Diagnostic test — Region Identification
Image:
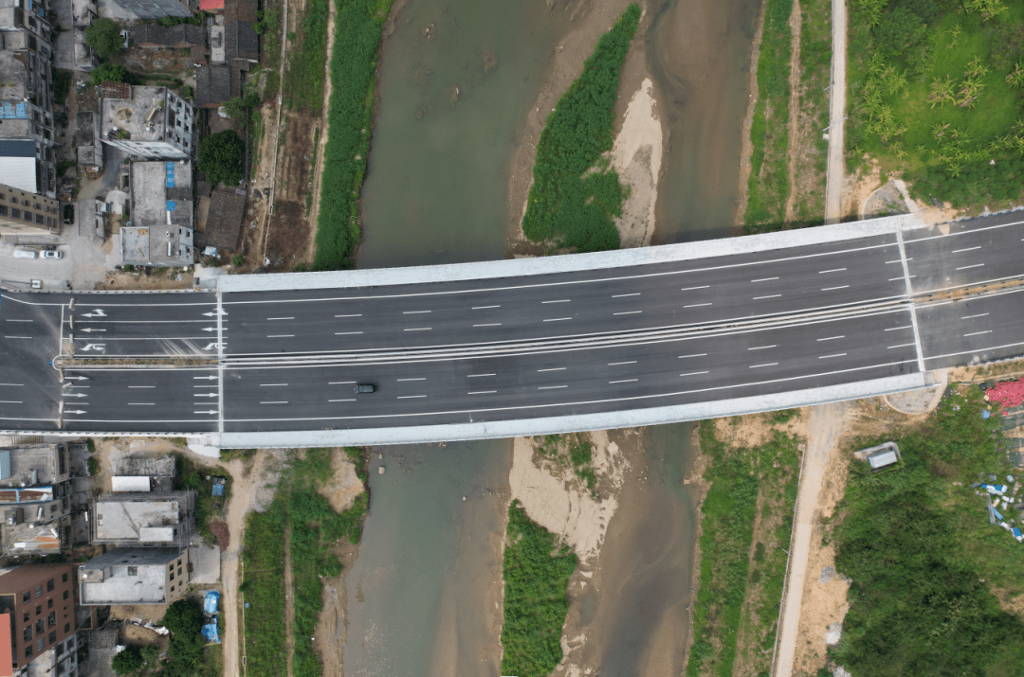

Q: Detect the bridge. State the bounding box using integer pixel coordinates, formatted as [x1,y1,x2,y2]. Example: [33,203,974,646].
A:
[217,214,926,451]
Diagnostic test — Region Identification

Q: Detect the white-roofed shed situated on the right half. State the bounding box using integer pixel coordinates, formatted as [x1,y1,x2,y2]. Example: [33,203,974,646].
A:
[861,448,898,470]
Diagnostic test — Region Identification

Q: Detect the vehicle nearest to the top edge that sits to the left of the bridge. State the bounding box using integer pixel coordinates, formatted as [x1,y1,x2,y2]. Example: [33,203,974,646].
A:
[60,203,73,225]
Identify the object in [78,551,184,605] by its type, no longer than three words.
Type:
house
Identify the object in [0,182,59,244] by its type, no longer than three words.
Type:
building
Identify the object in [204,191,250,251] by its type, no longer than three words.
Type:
house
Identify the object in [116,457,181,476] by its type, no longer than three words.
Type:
shed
